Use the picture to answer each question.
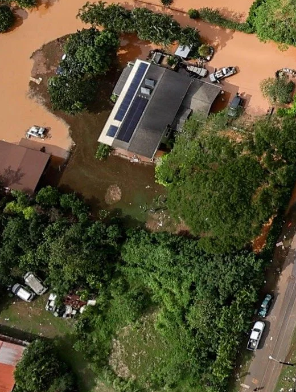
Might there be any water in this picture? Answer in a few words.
Yes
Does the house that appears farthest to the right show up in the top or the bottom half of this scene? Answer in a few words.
top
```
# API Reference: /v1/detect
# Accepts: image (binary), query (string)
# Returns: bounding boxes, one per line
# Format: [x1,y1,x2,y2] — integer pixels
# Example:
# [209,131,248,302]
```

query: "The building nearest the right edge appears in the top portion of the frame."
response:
[98,59,223,164]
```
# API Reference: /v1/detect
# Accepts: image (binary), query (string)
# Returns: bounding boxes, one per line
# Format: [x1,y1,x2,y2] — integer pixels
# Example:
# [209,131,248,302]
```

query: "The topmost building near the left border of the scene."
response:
[0,141,56,196]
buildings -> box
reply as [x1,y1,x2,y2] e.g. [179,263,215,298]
[98,59,223,164]
[0,341,27,392]
[0,141,56,196]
